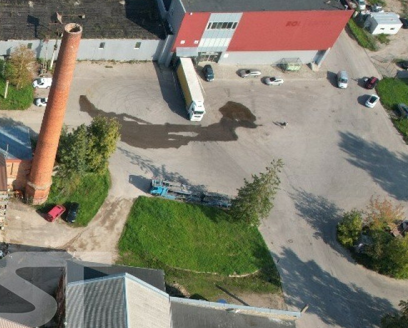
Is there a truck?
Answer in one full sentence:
Yes, the frame does contain a truck.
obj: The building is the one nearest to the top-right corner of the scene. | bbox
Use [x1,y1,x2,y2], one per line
[363,12,401,35]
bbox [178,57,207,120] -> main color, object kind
white truck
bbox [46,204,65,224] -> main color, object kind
red car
